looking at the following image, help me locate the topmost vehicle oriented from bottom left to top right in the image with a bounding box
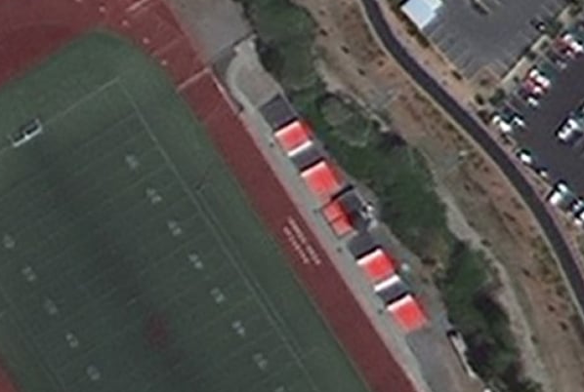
[557,118,578,140]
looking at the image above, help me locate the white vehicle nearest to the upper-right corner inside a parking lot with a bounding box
[565,34,584,51]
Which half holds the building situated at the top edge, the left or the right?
right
